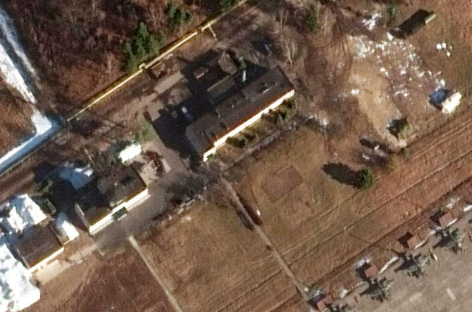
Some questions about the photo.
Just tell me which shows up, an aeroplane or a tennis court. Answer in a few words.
aeroplane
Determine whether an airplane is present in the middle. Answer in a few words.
No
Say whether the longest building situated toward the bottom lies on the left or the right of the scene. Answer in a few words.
left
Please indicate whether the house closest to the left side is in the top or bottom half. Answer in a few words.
bottom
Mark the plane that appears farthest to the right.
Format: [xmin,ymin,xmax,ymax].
[439,228,468,256]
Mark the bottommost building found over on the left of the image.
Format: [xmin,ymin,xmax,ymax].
[16,227,65,269]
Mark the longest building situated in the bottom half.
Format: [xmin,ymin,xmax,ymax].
[75,168,151,235]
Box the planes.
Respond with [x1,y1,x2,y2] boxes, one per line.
[333,301,358,312]
[439,228,468,256]
[402,253,432,281]
[368,276,396,303]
